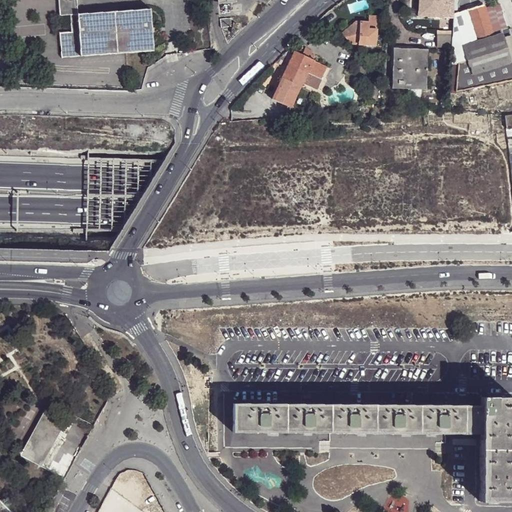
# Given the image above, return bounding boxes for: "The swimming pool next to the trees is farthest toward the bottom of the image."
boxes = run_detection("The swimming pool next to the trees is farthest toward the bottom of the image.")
[328,88,354,104]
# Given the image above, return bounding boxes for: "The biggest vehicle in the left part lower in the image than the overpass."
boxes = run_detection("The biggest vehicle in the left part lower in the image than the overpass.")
[176,392,192,437]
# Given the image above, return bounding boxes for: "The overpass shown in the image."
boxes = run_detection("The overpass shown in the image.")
[108,129,212,251]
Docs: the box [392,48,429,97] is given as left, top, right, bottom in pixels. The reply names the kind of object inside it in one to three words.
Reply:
house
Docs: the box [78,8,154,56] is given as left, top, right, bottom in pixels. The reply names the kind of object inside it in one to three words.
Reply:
building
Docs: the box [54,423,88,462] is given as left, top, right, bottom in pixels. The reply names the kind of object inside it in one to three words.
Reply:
shed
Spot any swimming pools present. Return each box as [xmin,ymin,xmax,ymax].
[346,0,370,14]
[328,88,354,104]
